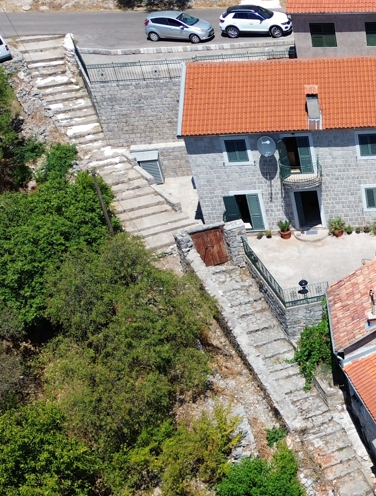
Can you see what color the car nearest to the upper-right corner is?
white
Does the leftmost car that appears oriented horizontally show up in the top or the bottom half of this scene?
top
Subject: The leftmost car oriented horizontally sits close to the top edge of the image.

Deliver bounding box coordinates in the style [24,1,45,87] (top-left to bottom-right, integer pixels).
[137,8,216,43]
